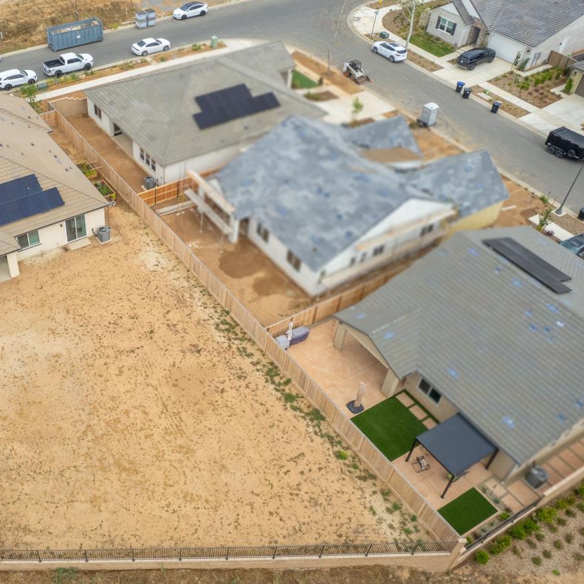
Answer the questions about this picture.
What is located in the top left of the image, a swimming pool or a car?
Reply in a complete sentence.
There is a car in the top left of the image.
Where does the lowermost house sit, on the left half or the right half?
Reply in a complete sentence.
The lowermost house appears in the right half of the scene.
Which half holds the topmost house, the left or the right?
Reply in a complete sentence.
The topmost house appears in the right half of the scene.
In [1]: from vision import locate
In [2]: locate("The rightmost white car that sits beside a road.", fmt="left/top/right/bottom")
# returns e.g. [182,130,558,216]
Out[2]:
[370,39,409,61]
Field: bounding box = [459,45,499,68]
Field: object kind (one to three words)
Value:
car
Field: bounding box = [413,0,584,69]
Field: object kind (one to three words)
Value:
house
